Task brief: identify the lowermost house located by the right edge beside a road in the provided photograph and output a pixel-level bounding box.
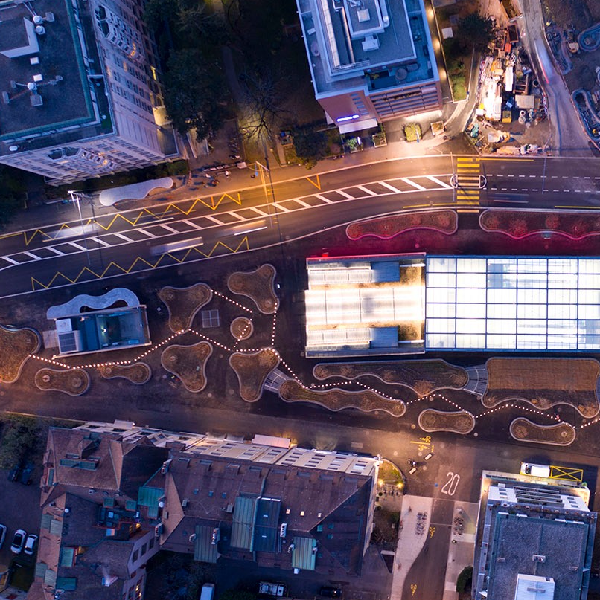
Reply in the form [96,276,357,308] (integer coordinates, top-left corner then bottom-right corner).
[472,466,598,600]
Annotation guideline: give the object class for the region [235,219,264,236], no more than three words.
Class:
car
